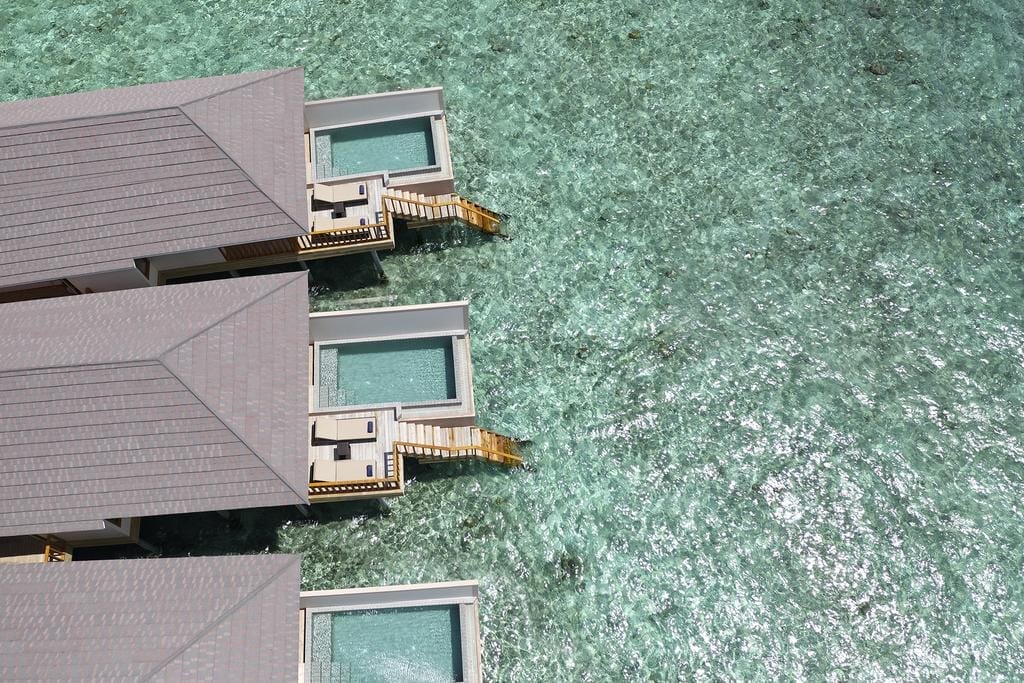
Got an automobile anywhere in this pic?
No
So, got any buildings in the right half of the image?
No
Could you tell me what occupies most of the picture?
water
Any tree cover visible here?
No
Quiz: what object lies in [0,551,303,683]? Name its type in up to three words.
house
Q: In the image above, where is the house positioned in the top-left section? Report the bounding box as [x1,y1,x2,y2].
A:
[0,64,311,299]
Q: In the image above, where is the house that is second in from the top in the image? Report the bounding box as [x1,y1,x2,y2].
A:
[0,270,310,553]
